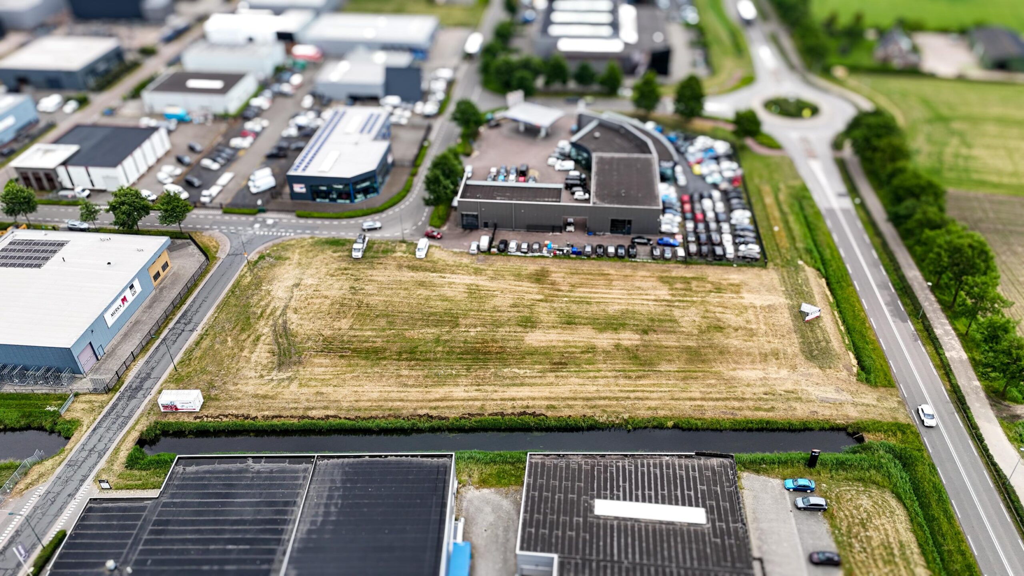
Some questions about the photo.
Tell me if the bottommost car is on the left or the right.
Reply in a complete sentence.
The bottommost car sits on the right side.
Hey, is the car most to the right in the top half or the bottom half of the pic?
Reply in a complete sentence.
The car most to the right sits in the bottom half of the picture.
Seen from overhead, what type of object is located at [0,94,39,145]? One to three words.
building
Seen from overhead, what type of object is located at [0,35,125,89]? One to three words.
building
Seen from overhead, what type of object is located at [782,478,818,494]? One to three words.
car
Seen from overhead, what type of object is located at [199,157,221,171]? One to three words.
vehicle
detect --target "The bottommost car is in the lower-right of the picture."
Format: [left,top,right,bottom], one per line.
[807,549,843,569]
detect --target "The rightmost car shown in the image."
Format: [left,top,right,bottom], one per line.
[916,403,937,429]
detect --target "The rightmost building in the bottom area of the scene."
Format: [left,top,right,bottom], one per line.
[515,453,758,576]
